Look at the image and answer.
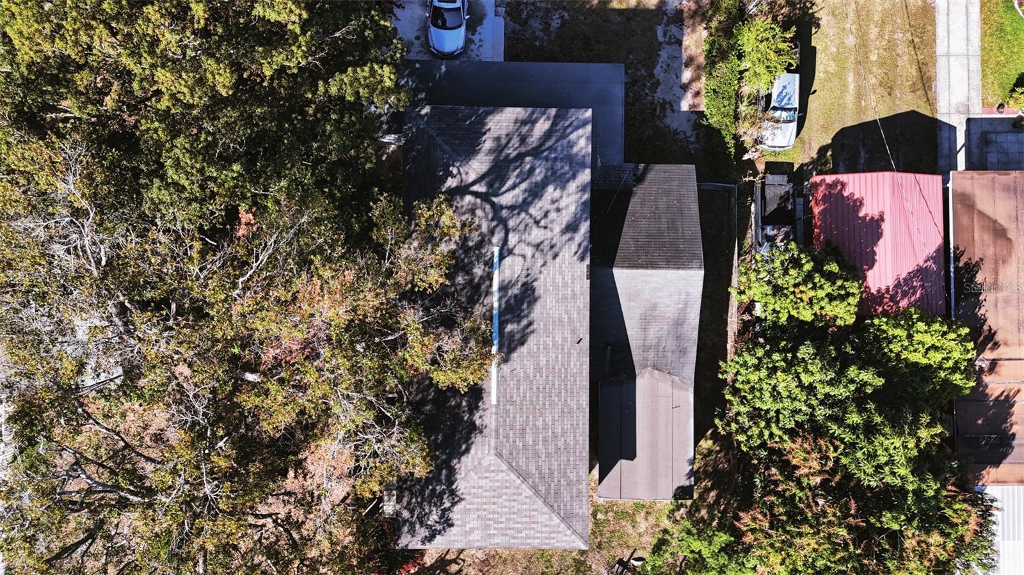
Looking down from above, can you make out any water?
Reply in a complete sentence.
No, there's no water in this view.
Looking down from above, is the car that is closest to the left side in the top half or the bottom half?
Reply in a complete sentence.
Seen from above, the car that is closest to the left side lies in the top half of the view.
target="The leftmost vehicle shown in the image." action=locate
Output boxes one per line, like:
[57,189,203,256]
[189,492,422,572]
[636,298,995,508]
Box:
[421,0,473,59]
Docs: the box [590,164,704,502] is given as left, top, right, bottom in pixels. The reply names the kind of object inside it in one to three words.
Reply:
house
